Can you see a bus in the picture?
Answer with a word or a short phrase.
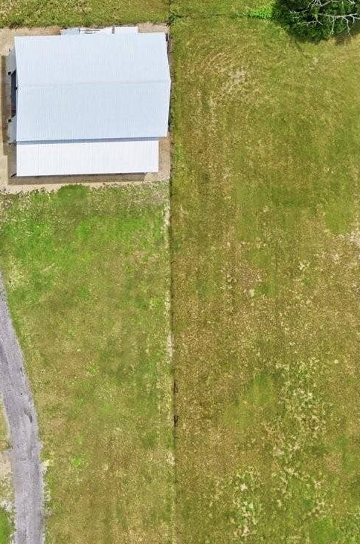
No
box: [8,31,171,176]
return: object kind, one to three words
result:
barn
